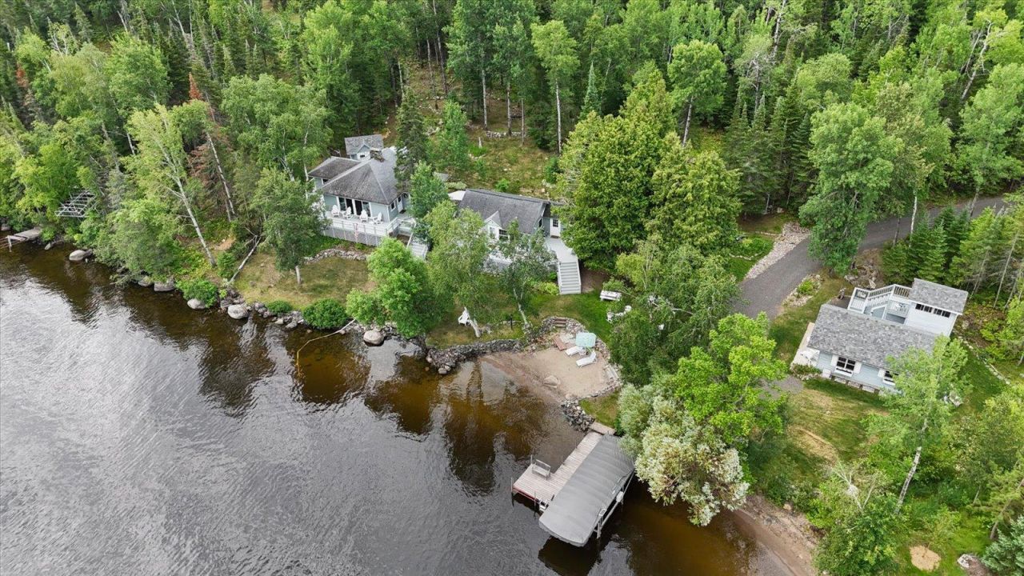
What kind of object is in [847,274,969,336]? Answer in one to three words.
shed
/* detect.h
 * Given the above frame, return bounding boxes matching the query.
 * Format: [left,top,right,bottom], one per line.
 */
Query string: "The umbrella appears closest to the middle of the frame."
[575,326,600,349]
